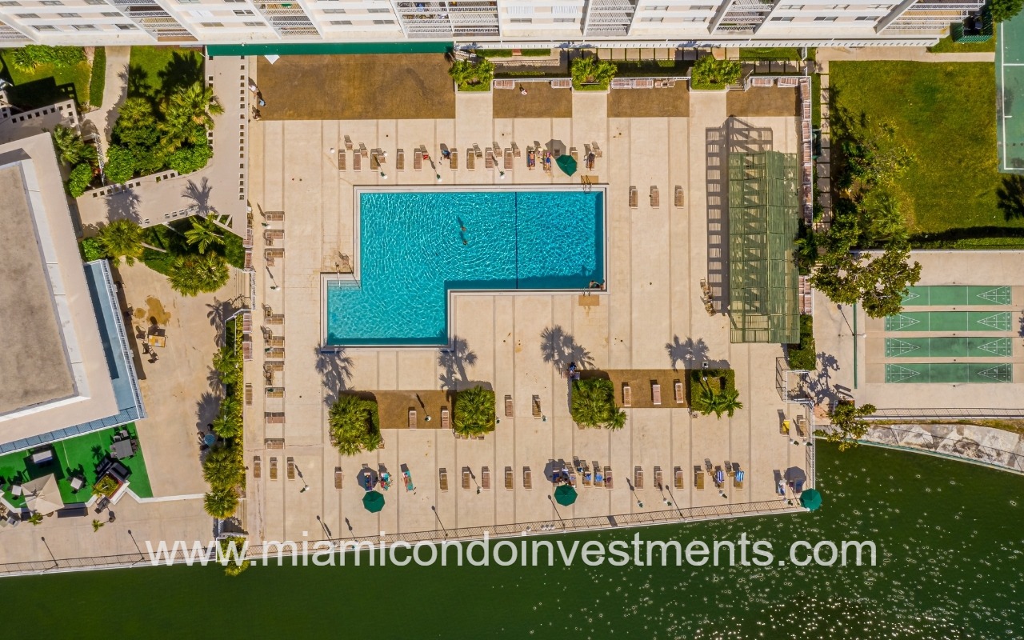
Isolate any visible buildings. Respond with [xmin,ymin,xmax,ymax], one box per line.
[728,147,799,350]
[0,132,146,457]
[0,0,1012,52]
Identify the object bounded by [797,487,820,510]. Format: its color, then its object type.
green umbrella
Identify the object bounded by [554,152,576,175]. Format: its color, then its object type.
green umbrella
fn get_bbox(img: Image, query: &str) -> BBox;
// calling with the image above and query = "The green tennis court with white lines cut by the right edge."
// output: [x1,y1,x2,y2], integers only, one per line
[995,9,1024,173]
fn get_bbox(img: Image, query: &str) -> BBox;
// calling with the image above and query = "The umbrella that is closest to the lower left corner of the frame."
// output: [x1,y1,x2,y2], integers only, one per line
[9,473,65,515]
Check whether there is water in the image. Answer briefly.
Yes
